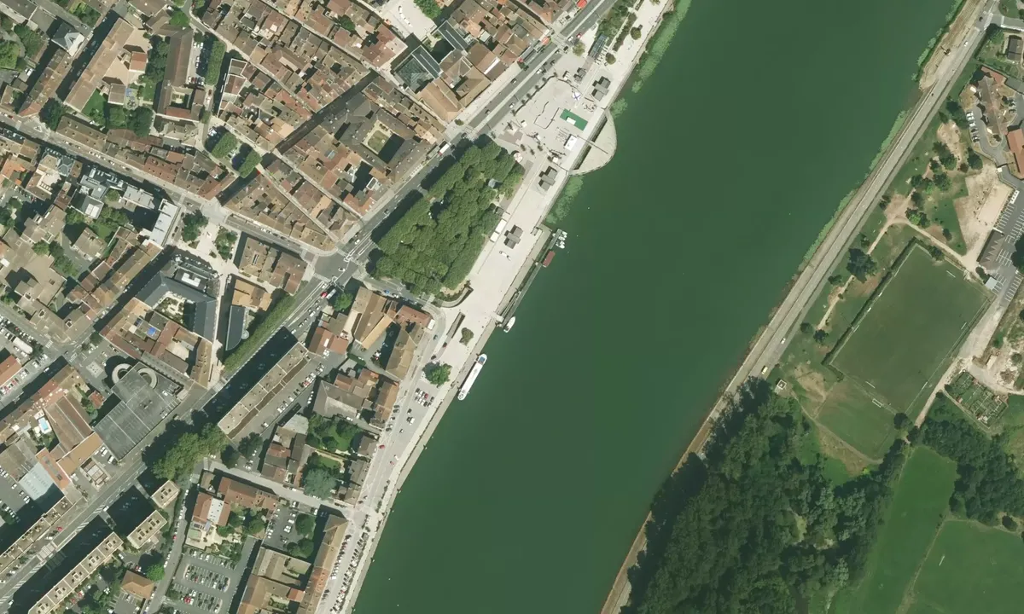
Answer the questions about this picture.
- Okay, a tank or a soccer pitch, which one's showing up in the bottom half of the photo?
soccer pitch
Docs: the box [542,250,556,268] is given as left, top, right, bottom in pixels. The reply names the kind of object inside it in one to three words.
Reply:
vessel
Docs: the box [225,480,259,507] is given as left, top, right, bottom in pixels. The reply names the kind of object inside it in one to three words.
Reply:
house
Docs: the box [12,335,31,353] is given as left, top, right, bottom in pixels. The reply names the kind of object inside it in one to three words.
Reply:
vehicle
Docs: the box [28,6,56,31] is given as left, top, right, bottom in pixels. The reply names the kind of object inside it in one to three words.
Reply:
building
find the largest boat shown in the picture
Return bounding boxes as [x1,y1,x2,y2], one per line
[457,355,486,401]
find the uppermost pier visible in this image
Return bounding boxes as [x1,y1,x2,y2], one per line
[571,113,617,174]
